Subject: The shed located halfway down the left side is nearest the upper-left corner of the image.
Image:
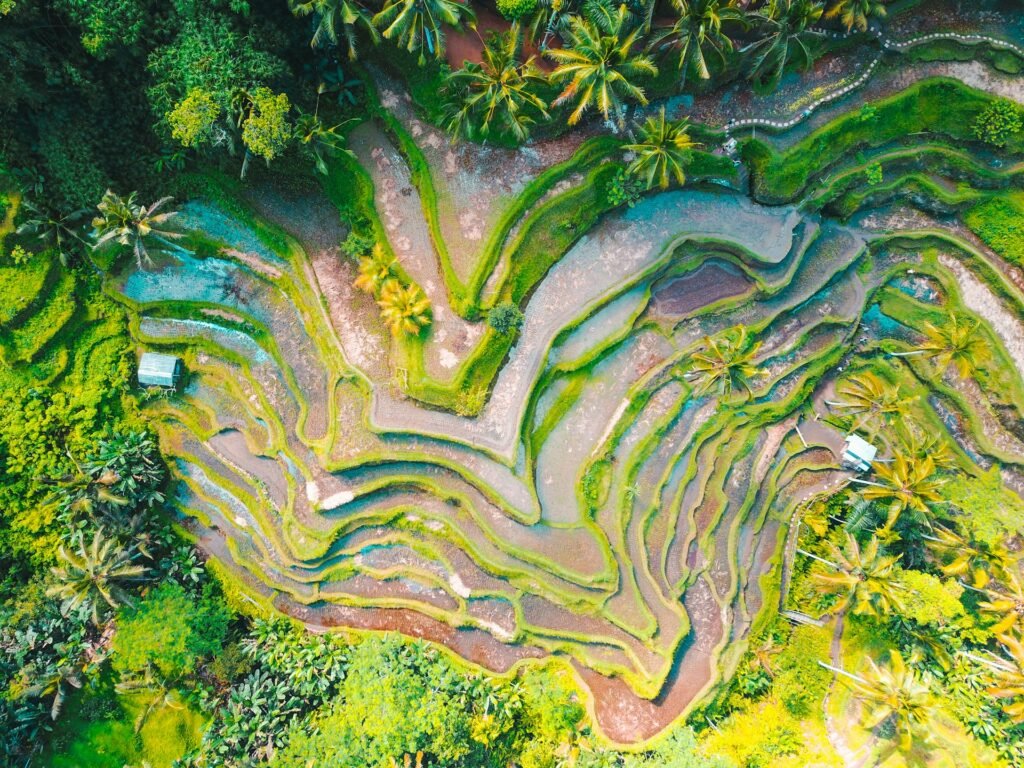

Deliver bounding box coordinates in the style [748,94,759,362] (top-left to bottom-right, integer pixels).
[131,351,183,390]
